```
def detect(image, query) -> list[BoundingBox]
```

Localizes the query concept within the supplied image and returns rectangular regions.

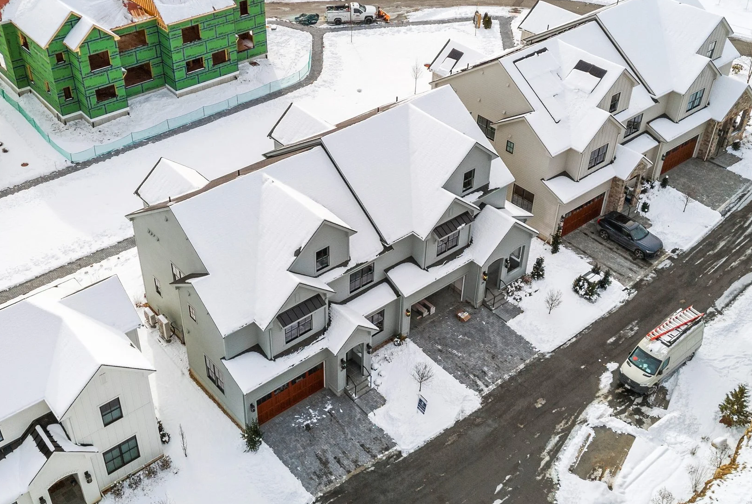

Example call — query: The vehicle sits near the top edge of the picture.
[329,2,388,25]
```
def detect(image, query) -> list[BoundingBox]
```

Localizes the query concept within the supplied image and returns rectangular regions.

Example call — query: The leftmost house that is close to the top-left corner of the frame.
[0,0,269,127]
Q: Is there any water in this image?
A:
No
